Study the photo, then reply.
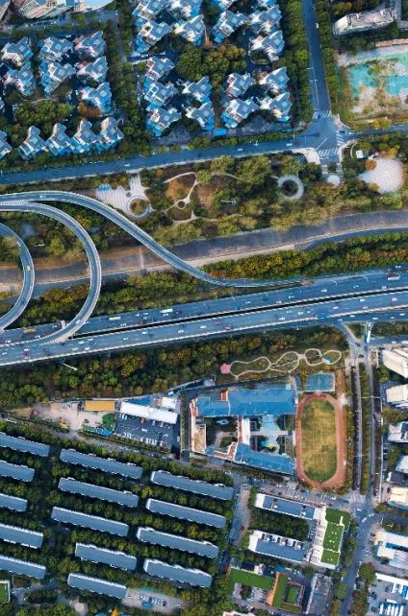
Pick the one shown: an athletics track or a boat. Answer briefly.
athletics track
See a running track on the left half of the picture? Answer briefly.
No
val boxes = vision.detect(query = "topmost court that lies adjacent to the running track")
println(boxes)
[307,374,335,392]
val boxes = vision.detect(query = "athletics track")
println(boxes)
[296,393,344,488]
